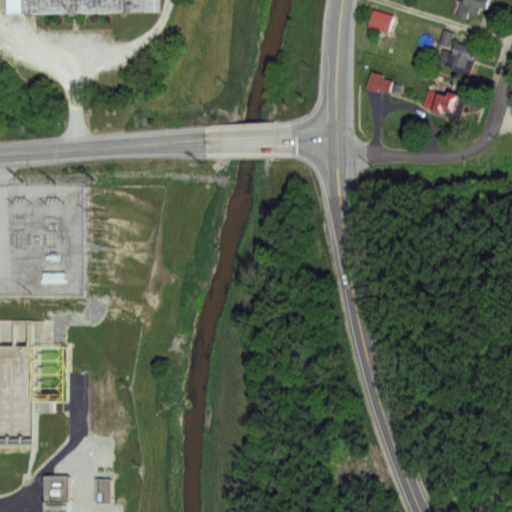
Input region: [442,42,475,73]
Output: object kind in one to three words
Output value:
house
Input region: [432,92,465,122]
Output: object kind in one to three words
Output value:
house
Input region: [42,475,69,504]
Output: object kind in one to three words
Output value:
building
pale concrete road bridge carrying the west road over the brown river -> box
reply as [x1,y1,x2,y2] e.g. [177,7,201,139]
[205,122,293,159]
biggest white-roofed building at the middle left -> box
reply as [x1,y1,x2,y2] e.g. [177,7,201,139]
[40,271,66,286]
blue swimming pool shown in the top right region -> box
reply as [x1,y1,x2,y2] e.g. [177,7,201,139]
[418,32,438,49]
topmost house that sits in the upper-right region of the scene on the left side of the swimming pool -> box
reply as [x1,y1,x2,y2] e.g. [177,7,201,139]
[368,8,399,38]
